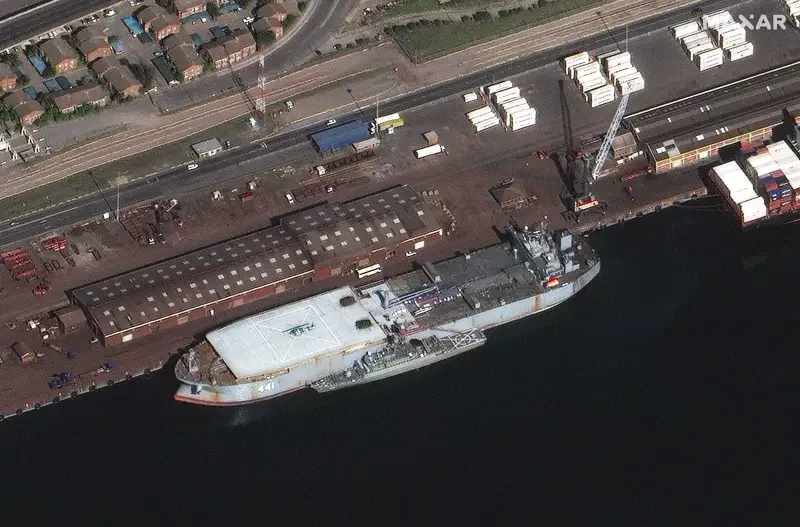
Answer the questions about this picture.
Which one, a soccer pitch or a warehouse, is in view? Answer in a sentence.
I can see a warehouse in this picture.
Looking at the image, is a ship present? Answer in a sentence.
Yes, a ship is visible in the scene.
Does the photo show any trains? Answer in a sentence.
No, there isn't any train down there.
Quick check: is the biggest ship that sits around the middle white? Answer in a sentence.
Yes, the biggest ship that sits around the middle is white.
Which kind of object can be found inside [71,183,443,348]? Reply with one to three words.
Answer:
warehouse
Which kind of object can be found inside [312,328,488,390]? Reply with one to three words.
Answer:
ship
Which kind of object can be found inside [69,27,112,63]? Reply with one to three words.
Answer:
house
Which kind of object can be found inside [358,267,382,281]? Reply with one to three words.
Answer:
vehicle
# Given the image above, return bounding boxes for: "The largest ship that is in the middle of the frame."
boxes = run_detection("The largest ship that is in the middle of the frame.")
[170,209,598,405]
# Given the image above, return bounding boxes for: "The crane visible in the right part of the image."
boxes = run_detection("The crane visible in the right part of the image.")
[564,91,630,221]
